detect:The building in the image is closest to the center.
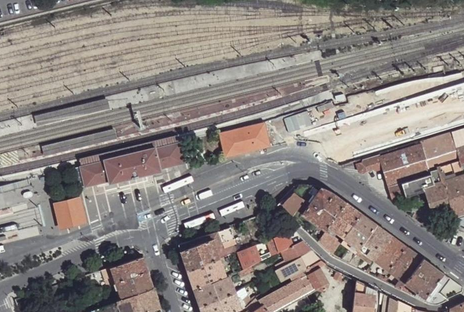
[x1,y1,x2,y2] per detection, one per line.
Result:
[219,122,272,160]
